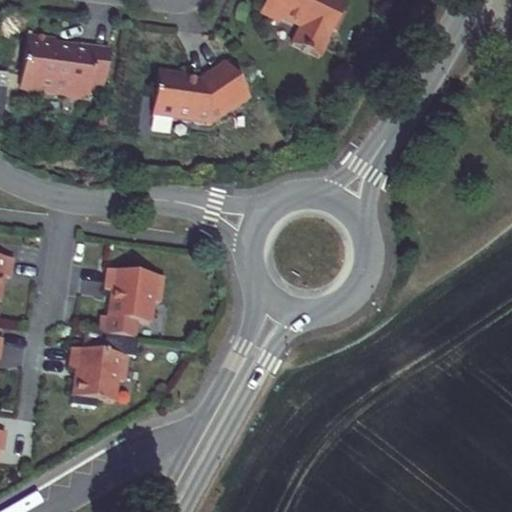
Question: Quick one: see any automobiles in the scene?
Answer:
Yes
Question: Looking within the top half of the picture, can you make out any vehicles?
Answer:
Yes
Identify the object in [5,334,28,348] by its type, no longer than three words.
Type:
car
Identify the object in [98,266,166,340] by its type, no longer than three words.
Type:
house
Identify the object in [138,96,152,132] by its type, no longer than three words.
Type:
building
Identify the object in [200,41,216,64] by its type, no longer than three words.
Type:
car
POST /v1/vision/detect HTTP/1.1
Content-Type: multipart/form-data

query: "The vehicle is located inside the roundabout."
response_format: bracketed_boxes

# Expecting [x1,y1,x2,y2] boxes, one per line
[290,314,312,332]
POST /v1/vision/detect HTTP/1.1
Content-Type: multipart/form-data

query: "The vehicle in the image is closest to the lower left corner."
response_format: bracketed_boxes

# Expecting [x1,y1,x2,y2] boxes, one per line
[0,490,45,512]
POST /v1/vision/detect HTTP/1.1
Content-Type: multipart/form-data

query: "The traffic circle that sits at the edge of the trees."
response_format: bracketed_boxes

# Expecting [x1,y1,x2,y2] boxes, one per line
[230,180,384,334]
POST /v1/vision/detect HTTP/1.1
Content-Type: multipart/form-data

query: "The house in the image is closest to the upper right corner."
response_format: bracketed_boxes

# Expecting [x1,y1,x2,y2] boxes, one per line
[262,0,348,58]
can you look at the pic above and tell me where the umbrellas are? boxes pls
[174,124,186,136]
[276,30,286,40]
[144,352,154,362]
